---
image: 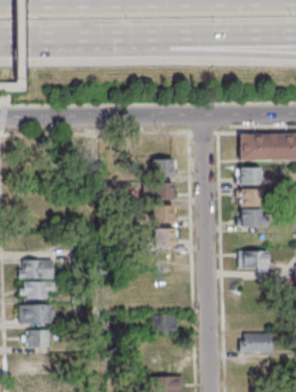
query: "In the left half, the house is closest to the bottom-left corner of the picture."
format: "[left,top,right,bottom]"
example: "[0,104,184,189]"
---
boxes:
[20,330,50,350]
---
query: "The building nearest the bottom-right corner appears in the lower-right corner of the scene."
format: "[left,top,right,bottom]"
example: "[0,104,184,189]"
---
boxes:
[238,333,273,354]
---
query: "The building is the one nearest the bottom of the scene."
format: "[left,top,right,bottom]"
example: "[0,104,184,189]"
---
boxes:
[154,376,184,392]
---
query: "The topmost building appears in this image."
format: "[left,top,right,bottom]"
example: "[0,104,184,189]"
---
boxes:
[238,134,296,160]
